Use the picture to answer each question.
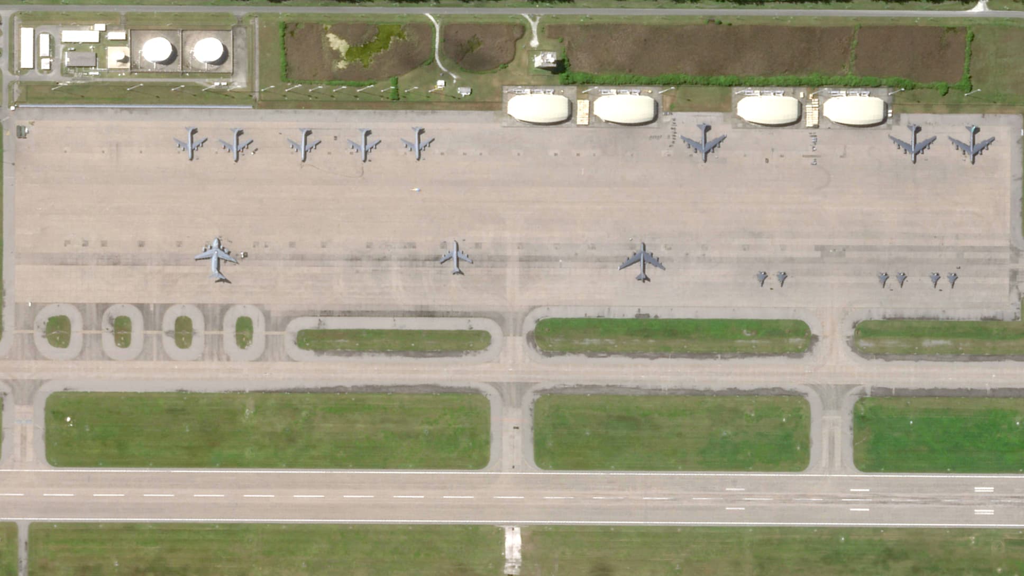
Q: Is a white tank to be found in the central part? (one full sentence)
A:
No, I can find no white tank in the central part.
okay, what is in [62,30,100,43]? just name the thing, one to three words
building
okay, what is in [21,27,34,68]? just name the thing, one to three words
building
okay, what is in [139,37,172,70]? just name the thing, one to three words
storage tank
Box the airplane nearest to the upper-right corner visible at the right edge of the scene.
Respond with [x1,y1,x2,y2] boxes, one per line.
[950,126,996,165]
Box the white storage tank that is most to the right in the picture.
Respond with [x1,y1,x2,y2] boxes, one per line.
[191,37,224,70]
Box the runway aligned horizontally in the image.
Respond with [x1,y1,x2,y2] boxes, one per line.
[0,471,1024,525]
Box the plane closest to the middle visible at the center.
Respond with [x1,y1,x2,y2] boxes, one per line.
[438,239,472,271]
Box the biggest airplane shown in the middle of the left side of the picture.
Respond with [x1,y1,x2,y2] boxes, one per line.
[194,236,237,278]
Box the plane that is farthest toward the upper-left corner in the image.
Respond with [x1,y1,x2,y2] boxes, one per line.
[174,127,208,161]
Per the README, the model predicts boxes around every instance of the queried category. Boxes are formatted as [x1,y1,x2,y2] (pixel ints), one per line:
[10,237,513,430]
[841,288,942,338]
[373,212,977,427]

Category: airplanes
[682,124,728,163]
[756,271,767,286]
[438,239,472,271]
[896,272,907,288]
[891,125,937,164]
[219,129,253,163]
[194,236,237,278]
[174,127,208,161]
[947,272,958,288]
[347,129,381,162]
[879,272,889,287]
[777,271,787,286]
[401,127,435,160]
[287,129,321,162]
[950,126,996,165]
[619,241,665,280]
[930,272,940,287]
